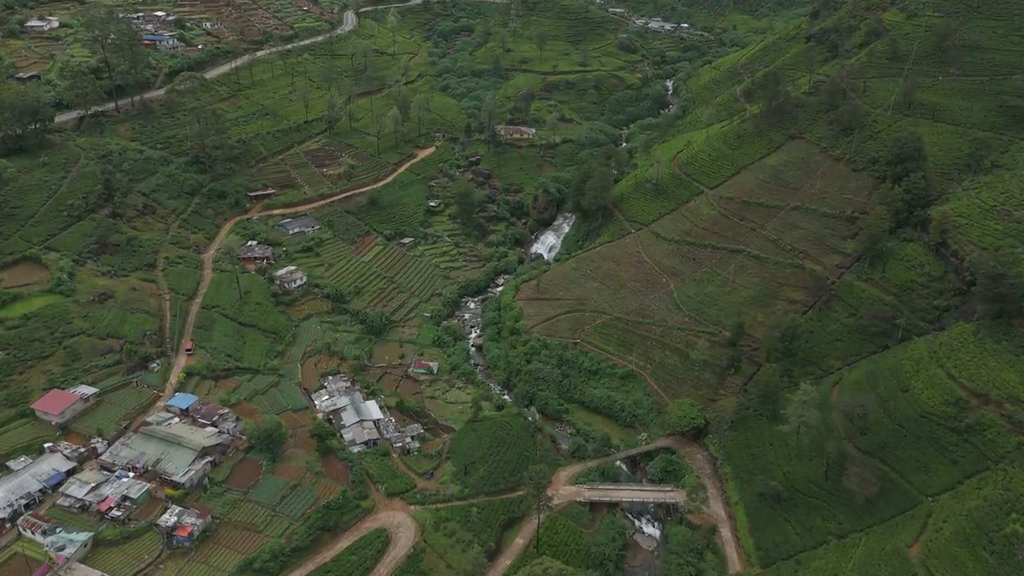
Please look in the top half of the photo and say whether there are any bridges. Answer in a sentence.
No, no bridge is visible in the top half of the photo.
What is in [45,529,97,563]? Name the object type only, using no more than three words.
house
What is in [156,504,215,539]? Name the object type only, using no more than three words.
house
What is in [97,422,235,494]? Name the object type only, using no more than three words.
building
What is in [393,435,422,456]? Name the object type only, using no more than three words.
shed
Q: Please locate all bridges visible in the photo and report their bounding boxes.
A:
[552,481,695,507]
